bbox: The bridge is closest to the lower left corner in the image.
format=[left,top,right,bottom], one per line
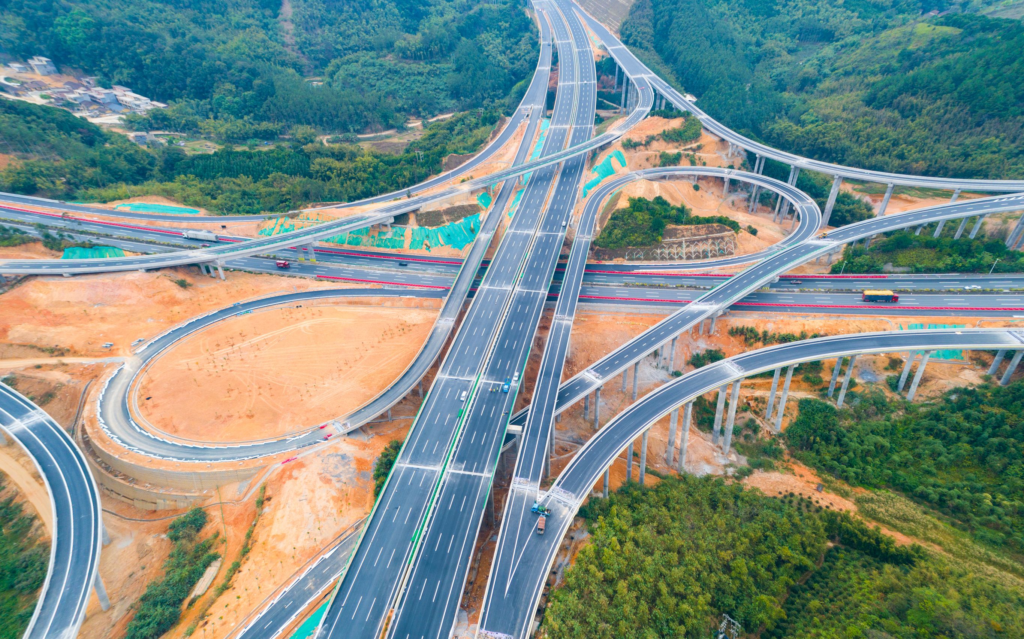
[0,382,119,639]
